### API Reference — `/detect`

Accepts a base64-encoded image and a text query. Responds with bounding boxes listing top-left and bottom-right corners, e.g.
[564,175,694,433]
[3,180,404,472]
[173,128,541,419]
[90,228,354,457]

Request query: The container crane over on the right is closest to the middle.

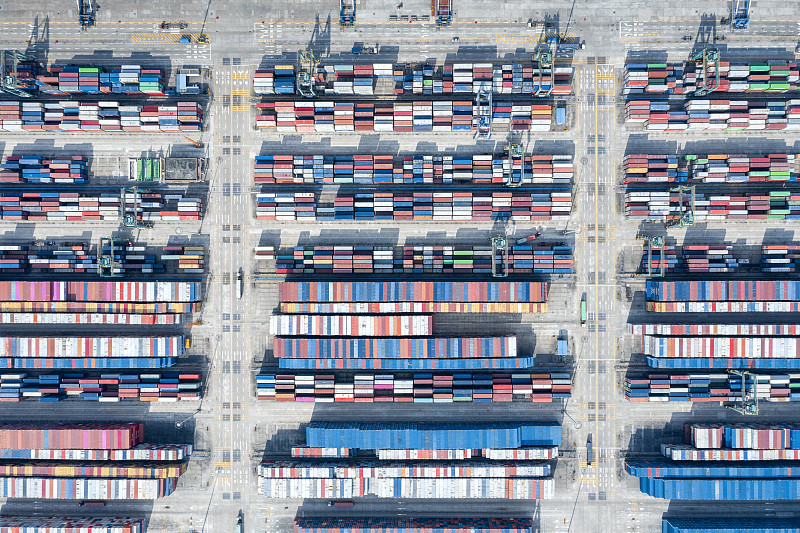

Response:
[485,234,509,279]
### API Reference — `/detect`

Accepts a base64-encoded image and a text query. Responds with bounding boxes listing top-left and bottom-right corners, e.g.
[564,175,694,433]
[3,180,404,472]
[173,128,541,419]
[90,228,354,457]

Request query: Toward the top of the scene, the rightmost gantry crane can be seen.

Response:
[728,0,751,35]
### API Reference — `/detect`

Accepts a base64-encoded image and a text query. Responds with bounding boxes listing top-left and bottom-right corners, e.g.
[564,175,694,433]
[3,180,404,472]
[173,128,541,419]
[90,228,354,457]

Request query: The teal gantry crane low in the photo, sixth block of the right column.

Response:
[722,368,759,417]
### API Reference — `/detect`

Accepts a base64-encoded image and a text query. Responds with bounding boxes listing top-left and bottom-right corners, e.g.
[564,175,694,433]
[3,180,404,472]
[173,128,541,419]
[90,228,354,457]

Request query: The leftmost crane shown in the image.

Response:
[0,47,40,98]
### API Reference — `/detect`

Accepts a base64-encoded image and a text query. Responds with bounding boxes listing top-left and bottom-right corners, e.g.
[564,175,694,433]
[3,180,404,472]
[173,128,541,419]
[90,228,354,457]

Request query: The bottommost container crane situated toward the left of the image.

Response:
[97,234,132,279]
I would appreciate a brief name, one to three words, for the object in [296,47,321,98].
container crane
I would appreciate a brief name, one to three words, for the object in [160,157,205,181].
shed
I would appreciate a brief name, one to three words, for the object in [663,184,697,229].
container crane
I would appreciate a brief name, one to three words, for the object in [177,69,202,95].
building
